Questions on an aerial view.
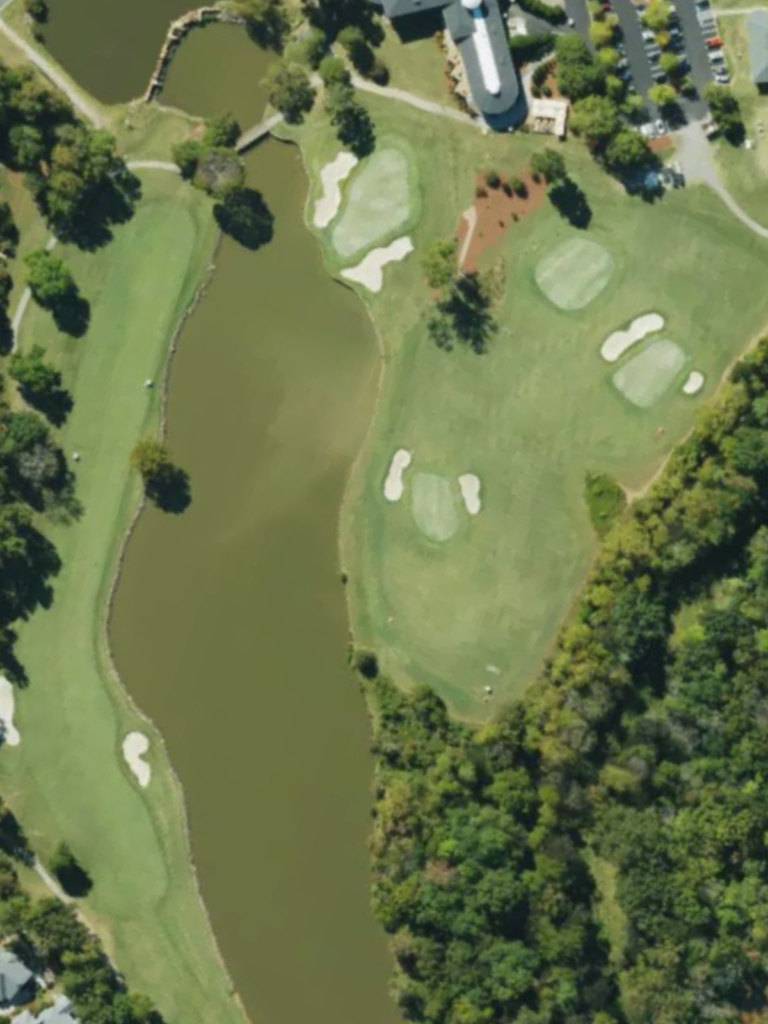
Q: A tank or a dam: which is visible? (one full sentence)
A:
Looking from above, you can make out a dam.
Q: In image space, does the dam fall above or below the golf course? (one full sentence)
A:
The position of the dam is above the golf course.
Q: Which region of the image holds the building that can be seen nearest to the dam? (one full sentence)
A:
You can find the building that can be seen nearest to the dam in the top area of the picture.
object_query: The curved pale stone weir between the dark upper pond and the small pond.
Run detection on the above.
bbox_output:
[145,5,221,103]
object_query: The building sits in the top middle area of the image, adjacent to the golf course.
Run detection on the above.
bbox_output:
[361,0,520,113]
